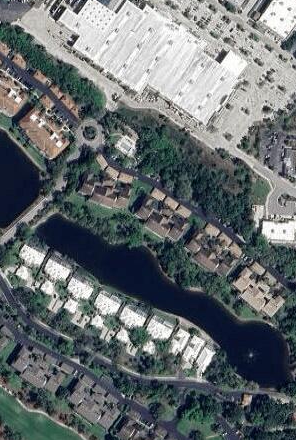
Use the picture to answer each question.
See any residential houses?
Yes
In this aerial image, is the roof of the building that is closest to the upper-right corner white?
Yes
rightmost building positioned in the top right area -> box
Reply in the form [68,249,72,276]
[253,0,296,38]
